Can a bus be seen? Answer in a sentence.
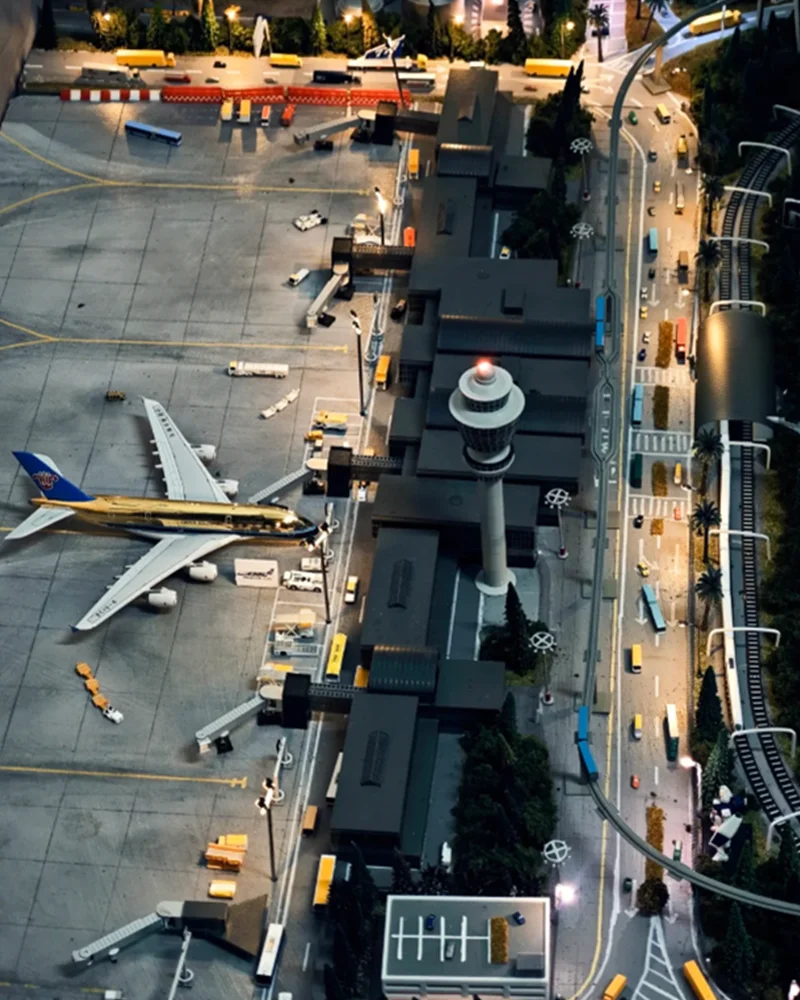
Yes, the photo shows a bus.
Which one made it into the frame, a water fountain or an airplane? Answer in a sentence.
The image shows an airplane.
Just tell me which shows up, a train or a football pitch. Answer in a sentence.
The one in the frame is a train.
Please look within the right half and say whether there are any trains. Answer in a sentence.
Yes, within the right half there is a train.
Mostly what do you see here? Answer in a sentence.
The bulk of the photo consists of paved ground.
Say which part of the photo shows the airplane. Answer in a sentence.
Look in the left portion of the view to spot the airplane.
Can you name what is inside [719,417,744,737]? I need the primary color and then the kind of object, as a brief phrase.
white train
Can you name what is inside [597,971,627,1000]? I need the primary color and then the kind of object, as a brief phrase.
orange bus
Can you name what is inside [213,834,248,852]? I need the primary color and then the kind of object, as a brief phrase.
yellow vehicle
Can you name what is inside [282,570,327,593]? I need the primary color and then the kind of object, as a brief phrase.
white truck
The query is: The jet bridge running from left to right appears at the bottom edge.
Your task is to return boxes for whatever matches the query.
[64,895,269,974]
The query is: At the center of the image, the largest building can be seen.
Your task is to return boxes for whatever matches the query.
[333,69,594,879]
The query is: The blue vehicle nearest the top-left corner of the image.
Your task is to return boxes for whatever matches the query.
[125,123,185,144]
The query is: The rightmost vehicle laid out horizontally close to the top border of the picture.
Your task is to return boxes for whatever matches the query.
[688,11,742,37]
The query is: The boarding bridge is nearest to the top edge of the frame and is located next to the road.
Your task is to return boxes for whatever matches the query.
[289,102,444,149]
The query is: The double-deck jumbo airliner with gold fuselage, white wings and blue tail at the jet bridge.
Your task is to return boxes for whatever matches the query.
[6,394,317,627]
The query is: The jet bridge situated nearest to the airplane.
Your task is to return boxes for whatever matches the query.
[242,446,406,509]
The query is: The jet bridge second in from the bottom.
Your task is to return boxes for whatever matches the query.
[189,671,362,756]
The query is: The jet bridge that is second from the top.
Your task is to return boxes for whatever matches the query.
[302,239,414,332]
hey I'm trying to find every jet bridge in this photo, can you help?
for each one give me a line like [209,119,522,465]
[64,895,269,974]
[289,102,444,149]
[242,446,406,509]
[189,671,362,756]
[302,239,414,332]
